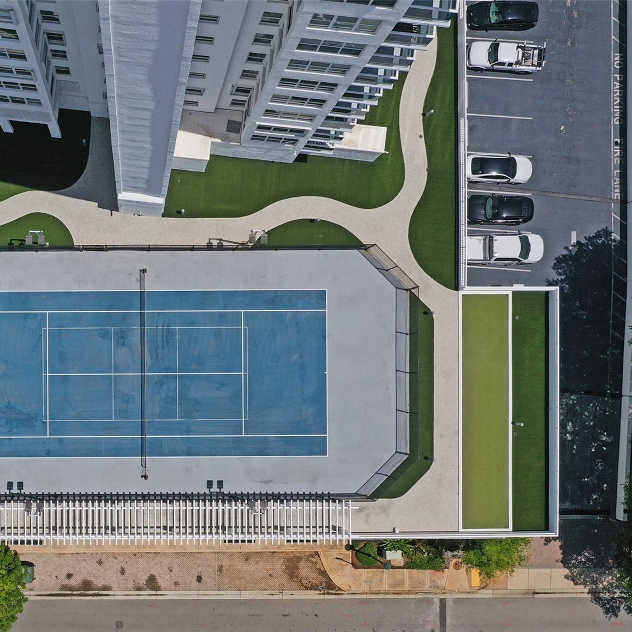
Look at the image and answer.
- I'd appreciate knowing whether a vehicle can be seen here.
Yes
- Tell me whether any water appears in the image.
No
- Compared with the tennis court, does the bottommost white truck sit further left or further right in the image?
right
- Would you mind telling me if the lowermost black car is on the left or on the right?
right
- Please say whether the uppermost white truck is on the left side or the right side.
right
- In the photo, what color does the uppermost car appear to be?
black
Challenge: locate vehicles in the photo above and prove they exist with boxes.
[467,192,534,226]
[467,230,545,266]
[467,152,533,184]
[467,0,537,34]
[467,36,550,74]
